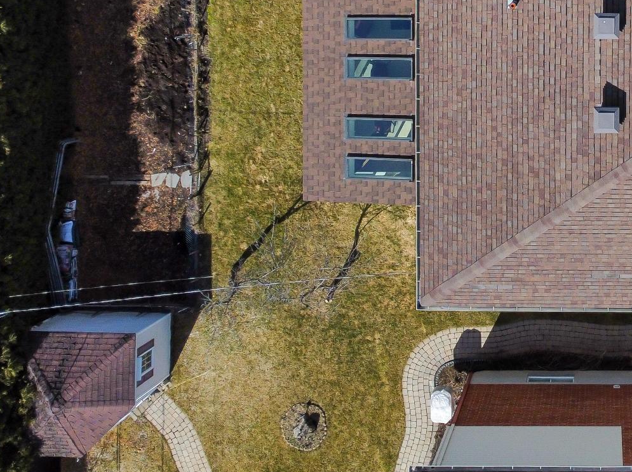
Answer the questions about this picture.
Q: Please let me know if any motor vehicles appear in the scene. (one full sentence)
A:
No, the scene contains no motor vehicle.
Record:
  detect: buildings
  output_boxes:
[20,311,169,459]
[302,0,632,312]
[409,372,632,472]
